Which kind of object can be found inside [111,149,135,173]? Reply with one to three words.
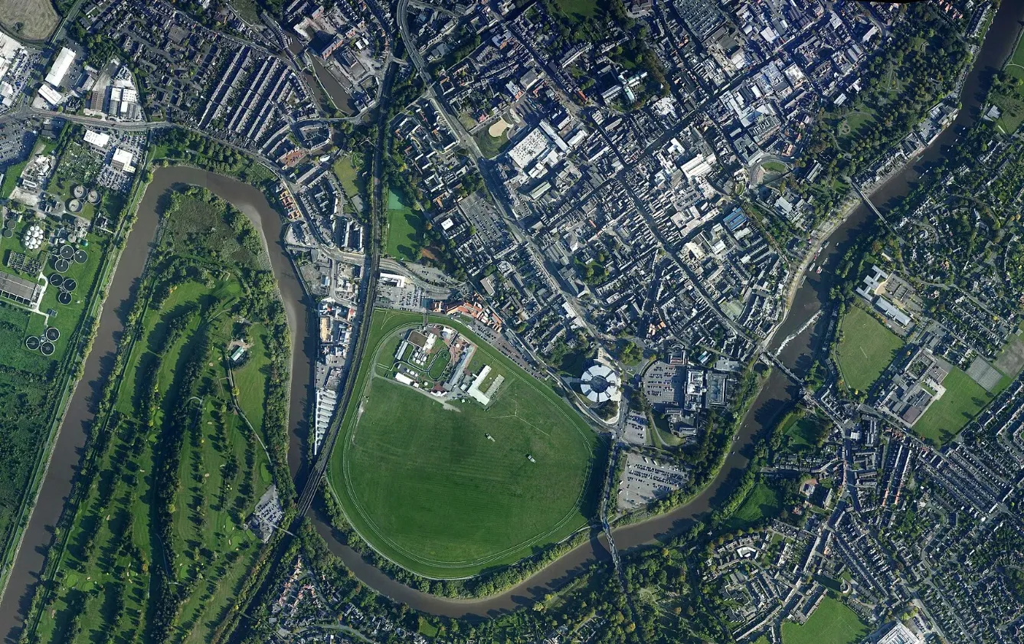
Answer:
building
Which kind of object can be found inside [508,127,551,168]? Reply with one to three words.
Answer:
building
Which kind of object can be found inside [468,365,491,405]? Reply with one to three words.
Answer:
tent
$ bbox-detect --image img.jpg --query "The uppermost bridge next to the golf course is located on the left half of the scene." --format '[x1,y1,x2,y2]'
[294,75,392,516]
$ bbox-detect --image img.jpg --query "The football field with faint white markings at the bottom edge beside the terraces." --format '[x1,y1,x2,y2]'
[782,593,868,644]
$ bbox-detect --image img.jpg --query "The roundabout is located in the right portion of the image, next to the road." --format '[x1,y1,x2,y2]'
[612,335,651,377]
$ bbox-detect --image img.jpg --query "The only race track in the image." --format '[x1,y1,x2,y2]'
[326,308,606,578]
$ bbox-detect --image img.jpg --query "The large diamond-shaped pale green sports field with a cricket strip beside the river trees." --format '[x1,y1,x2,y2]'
[837,308,904,393]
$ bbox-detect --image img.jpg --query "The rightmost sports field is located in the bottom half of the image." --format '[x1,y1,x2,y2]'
[912,366,1023,444]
